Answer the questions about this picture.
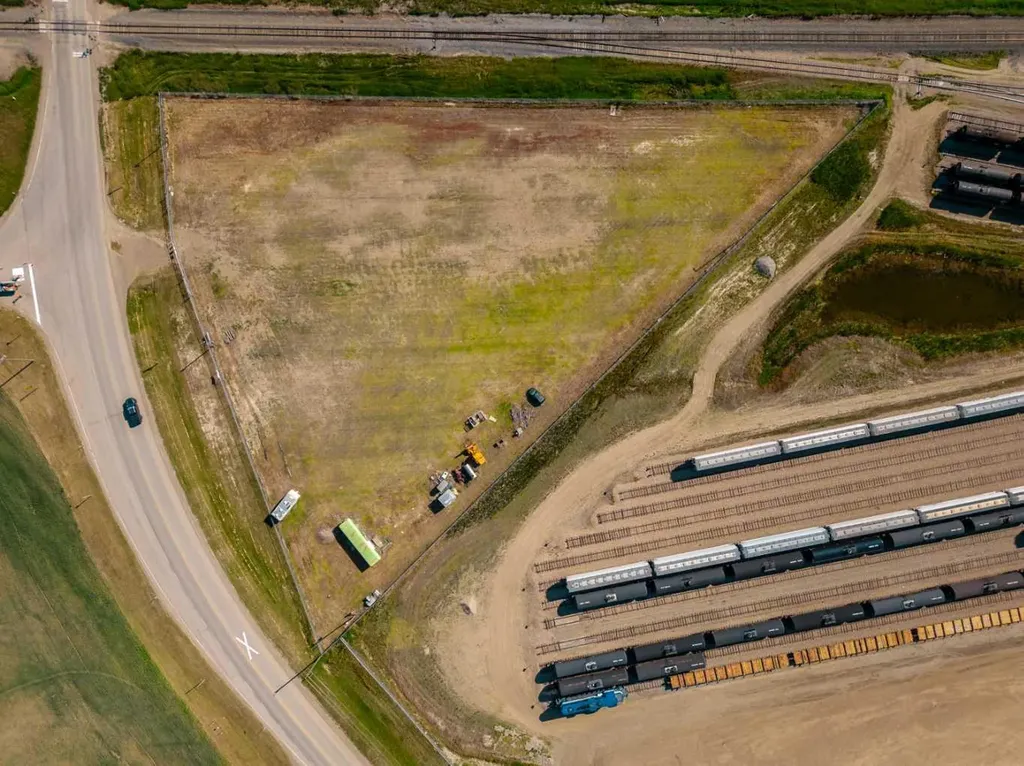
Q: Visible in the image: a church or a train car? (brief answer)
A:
train car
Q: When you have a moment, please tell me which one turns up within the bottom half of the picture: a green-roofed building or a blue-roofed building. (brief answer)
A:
green-roofed building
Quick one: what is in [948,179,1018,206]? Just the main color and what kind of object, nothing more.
black rail car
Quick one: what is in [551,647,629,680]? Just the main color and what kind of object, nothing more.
gray rail car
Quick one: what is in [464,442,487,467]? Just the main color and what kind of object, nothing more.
orange work vehicle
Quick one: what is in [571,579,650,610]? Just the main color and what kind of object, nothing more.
gray rail car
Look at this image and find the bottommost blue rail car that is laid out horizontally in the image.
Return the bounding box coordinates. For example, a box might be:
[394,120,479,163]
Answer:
[557,685,626,714]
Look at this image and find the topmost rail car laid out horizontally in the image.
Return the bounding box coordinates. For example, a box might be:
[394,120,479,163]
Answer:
[957,123,1024,150]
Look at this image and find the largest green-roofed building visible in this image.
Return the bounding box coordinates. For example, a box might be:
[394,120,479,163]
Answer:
[339,516,383,566]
